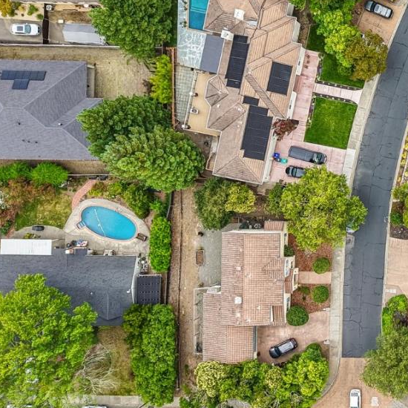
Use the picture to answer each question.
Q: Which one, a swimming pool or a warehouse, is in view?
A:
swimming pool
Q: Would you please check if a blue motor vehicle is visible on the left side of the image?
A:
No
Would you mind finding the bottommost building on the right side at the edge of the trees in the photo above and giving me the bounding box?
[202,220,298,365]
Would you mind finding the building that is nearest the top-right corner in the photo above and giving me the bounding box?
[183,0,310,184]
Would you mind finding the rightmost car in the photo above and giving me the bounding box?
[361,0,394,20]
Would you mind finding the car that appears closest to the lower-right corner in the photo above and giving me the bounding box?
[345,386,363,408]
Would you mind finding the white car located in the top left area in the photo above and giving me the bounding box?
[7,20,34,37]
